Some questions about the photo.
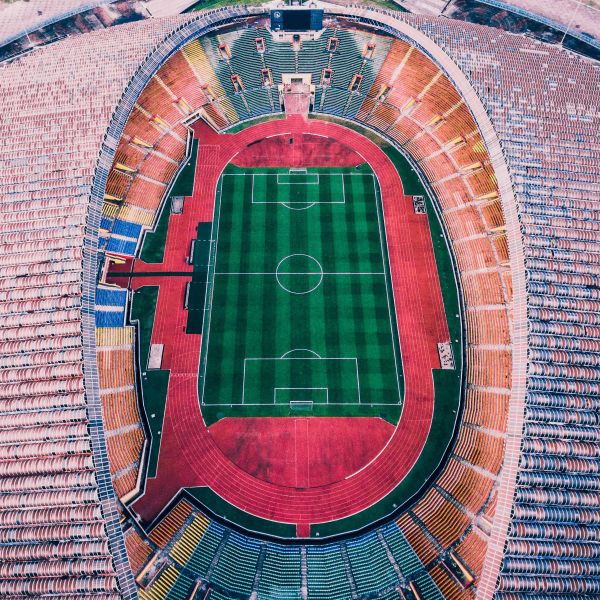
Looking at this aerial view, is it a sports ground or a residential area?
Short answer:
sports ground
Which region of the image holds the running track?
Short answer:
center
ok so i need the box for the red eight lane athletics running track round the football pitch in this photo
[121,114,450,537]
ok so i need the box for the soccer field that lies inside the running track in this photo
[197,163,404,451]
